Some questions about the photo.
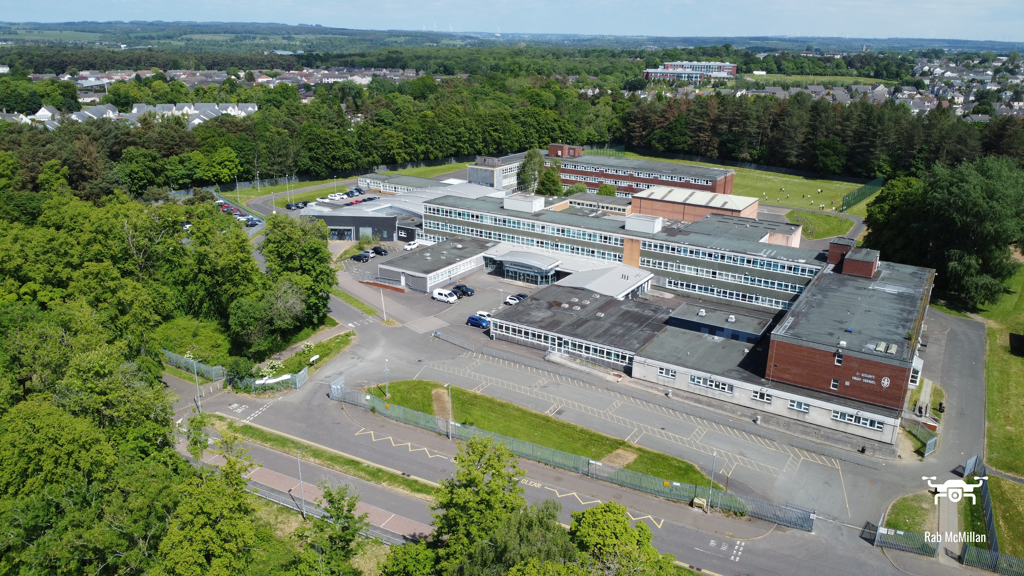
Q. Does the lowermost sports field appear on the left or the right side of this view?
right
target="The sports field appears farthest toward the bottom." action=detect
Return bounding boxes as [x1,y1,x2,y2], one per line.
[587,147,921,238]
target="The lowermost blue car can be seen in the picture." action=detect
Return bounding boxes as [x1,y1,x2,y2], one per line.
[467,313,490,327]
